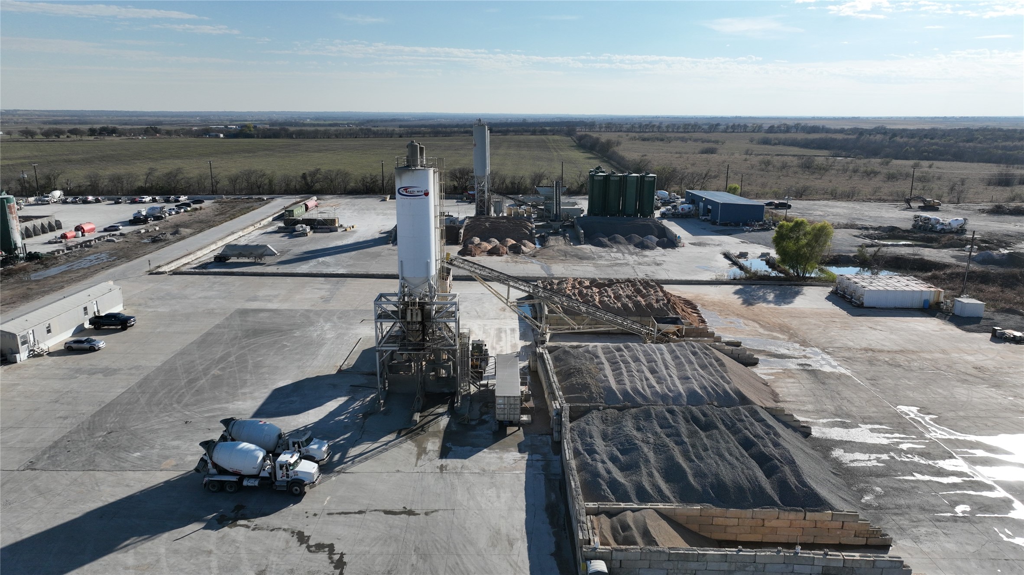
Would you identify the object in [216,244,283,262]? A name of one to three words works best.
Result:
trailer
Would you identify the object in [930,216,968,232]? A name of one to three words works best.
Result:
vehicle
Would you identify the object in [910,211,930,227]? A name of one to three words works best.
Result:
vehicle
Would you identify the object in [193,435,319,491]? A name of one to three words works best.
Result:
truck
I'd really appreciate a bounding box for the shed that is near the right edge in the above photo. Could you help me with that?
[947,292,994,317]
